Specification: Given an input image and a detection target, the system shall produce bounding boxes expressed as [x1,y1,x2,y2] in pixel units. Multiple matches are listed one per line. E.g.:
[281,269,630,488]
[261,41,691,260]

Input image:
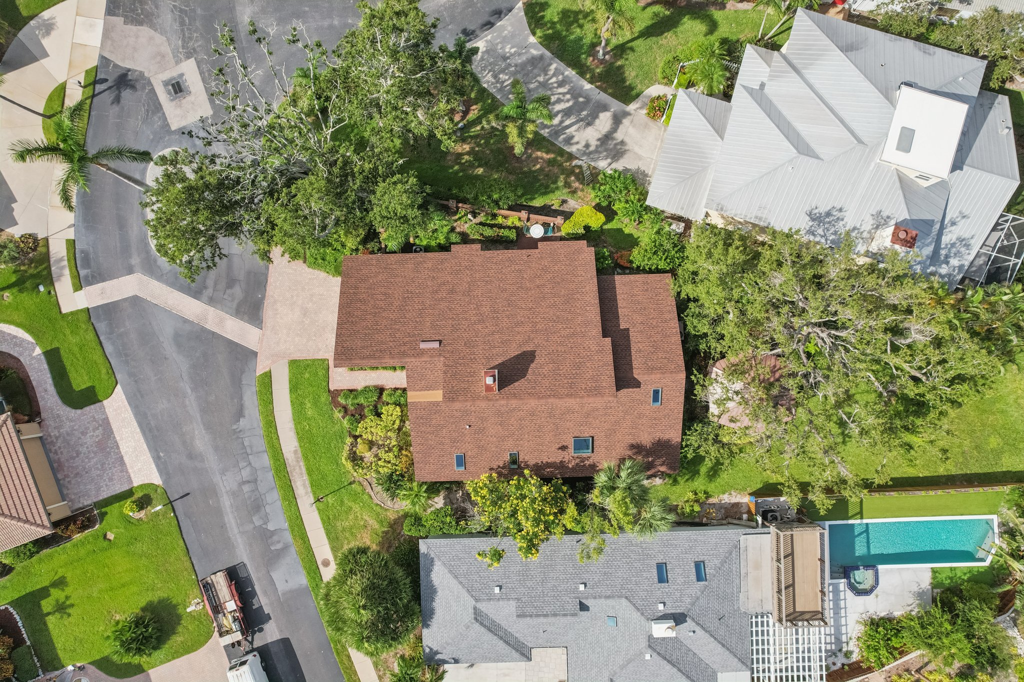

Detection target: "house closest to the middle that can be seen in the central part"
[334,240,686,481]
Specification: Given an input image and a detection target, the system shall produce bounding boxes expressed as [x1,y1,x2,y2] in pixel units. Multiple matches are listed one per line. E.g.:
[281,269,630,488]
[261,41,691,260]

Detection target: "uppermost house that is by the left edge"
[0,408,70,553]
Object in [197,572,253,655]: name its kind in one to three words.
trailer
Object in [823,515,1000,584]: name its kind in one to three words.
swimming pool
